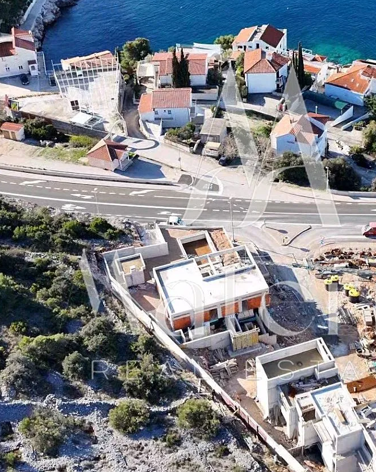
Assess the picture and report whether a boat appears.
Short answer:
No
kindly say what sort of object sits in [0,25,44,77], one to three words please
house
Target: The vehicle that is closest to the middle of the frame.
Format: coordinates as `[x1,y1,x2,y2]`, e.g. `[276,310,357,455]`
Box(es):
[156,213,184,226]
